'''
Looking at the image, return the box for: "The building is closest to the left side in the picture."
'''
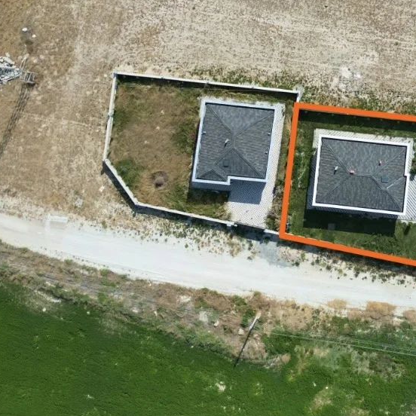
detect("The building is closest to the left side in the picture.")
[192,100,277,185]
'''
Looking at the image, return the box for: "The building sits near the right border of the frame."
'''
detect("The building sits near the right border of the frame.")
[312,134,410,216]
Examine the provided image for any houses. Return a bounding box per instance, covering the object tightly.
[312,134,410,216]
[192,100,277,185]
